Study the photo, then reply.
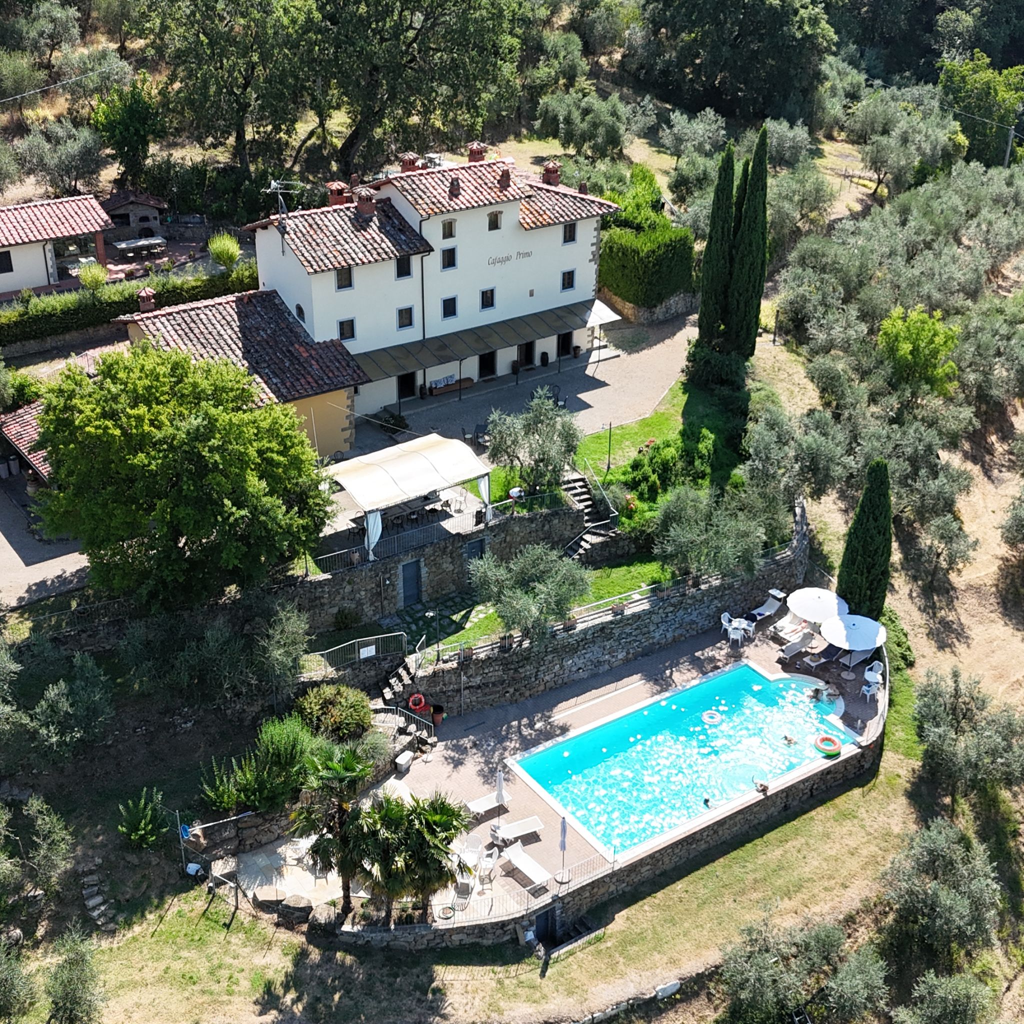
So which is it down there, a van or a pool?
pool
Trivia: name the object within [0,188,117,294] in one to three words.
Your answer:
building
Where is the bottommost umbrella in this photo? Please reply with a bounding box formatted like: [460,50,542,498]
[555,822,571,883]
